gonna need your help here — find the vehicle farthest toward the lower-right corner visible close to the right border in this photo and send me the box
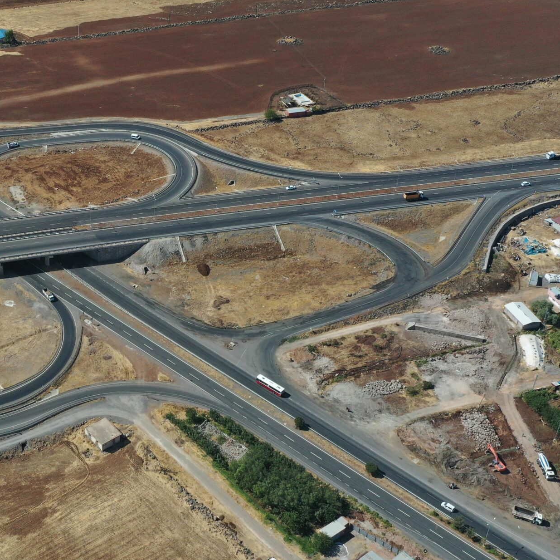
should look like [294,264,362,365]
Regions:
[515,508,543,524]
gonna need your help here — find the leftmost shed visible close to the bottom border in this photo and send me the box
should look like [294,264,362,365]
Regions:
[320,515,345,543]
